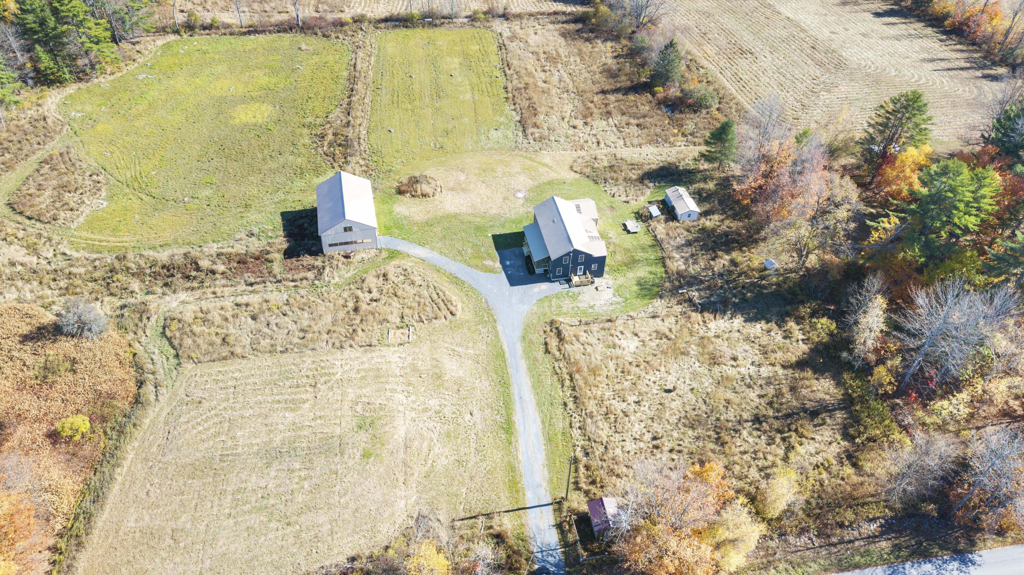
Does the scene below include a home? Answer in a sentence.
Yes, there's a home here.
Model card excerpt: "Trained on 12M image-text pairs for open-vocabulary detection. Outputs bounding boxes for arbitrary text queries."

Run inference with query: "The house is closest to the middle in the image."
[521,194,608,280]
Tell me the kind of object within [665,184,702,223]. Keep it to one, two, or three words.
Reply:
shed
